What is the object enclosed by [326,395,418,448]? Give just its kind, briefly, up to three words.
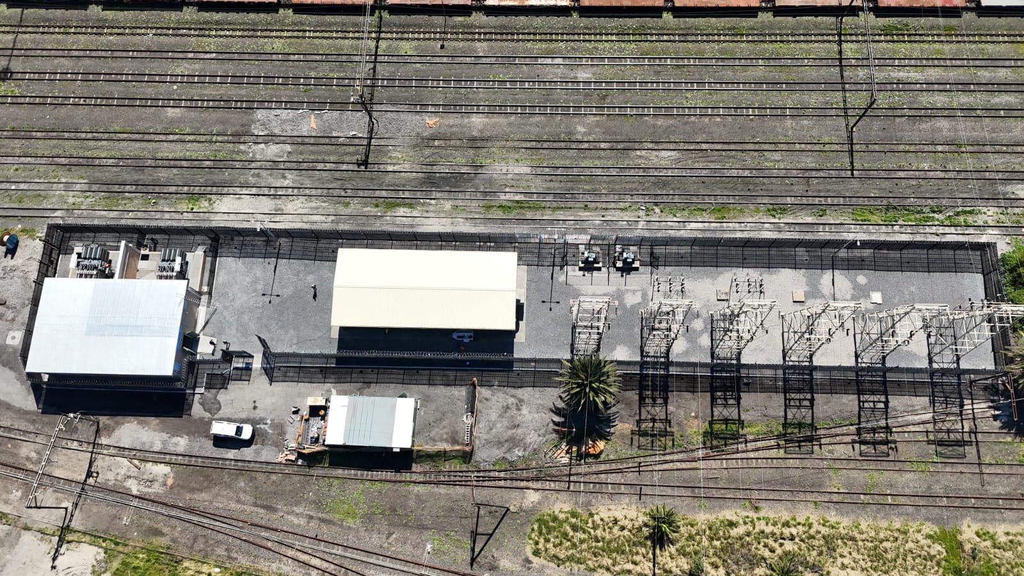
shed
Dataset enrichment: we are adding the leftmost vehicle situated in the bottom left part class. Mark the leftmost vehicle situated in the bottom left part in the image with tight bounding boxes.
[210,419,254,438]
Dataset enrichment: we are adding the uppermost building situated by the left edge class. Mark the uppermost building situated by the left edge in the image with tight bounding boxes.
[28,277,208,382]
